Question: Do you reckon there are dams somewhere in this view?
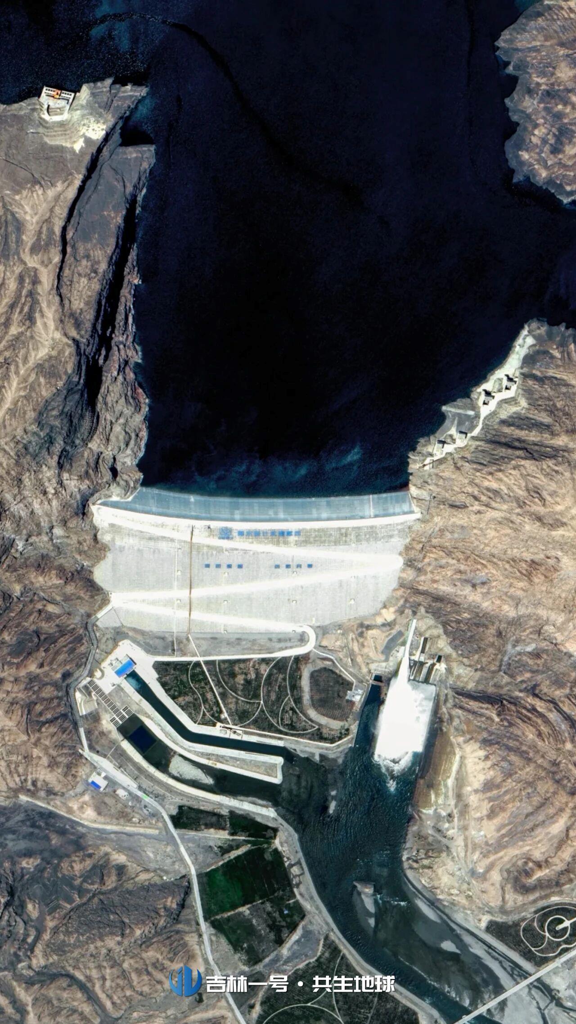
Yes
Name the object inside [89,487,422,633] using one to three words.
dam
